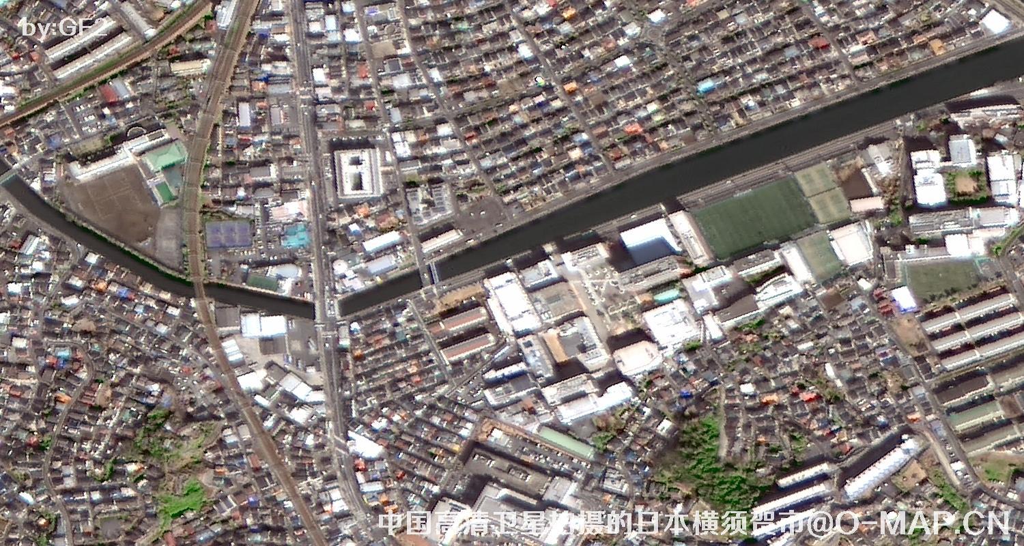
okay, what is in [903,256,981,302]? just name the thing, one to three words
sports field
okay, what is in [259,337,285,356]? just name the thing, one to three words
shed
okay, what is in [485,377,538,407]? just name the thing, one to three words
building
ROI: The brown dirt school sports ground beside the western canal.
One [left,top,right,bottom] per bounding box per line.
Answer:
[63,164,160,244]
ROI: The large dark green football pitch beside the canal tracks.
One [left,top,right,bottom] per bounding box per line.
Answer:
[692,176,818,259]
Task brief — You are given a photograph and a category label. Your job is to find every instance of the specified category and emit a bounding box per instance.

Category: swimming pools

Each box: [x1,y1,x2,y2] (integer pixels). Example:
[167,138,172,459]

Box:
[154,179,175,205]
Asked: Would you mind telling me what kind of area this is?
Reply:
residential area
